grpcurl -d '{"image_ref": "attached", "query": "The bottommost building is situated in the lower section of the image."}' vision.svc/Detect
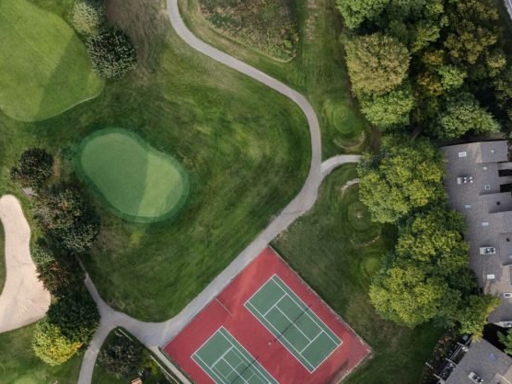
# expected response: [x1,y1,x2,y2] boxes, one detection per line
[438,338,512,384]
